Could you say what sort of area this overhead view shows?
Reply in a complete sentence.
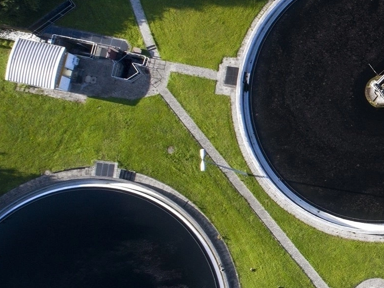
The picture captures an industrial area.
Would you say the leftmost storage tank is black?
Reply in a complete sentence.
Yes, the leftmost storage tank appears black.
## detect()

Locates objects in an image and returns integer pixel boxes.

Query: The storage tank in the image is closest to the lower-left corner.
[0,168,243,288]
